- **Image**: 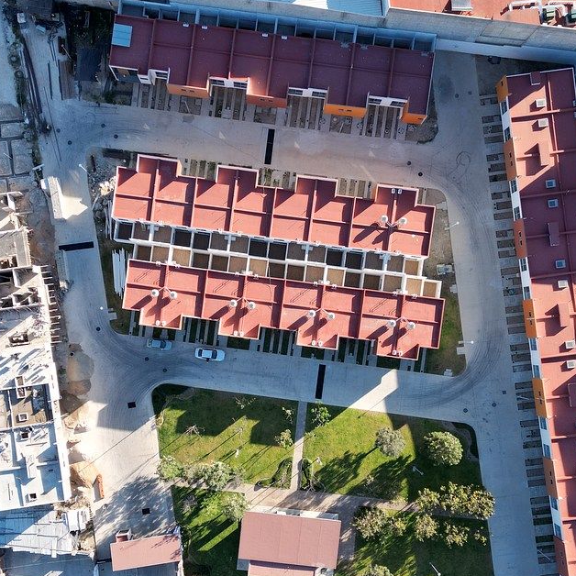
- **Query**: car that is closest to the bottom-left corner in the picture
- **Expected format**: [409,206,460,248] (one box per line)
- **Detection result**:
[147,337,173,351]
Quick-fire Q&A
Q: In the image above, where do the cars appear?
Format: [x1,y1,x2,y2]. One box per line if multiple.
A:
[147,337,173,351]
[196,347,226,361]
